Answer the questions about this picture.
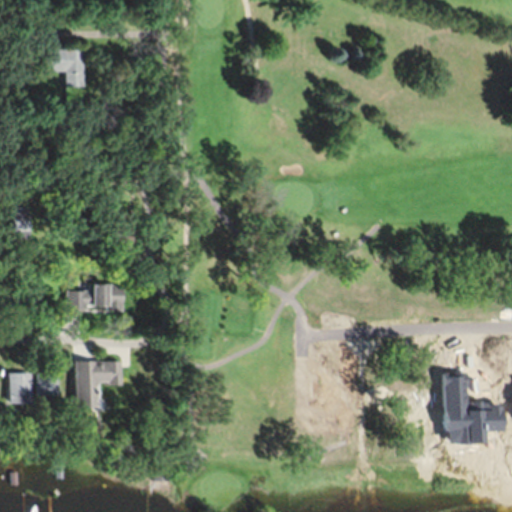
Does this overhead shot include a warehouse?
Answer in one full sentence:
No, the scene contains no warehouse.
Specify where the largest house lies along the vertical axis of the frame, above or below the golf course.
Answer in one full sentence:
As seen from overhead, the largest house falls below the golf course in the picture.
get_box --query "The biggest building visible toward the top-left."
[53,48,86,87]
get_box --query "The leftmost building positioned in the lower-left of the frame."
[8,374,33,405]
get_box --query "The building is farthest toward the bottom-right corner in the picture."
[445,374,505,444]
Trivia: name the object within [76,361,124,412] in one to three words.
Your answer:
house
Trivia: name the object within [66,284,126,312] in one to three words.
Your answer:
house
